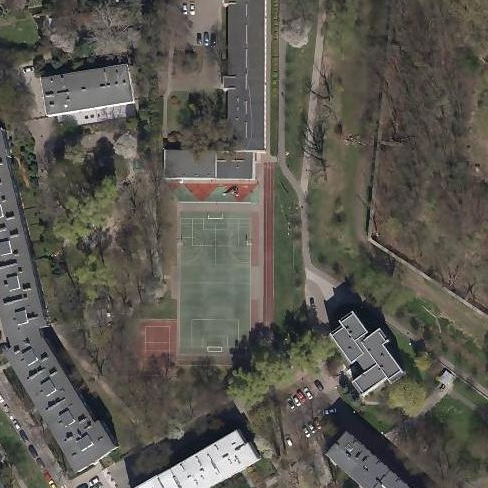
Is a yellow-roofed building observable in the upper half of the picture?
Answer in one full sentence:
No, in the upper half of the picture there is no yellow-roofed building.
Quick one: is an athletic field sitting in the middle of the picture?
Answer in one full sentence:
Yes, an athletic field is visible in the middle of the picture.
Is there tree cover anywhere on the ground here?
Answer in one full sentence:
Yes, tree cover shows up in the scene.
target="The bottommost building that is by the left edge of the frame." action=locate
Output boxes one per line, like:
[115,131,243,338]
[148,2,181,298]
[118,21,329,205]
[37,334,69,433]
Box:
[0,127,115,476]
